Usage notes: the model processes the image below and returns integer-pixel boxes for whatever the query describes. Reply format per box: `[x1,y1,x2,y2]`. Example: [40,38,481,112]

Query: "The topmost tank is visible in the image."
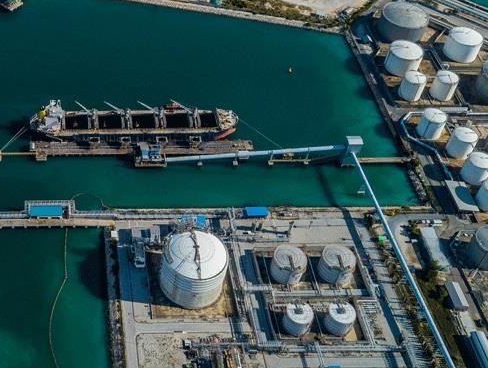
[377,1,429,43]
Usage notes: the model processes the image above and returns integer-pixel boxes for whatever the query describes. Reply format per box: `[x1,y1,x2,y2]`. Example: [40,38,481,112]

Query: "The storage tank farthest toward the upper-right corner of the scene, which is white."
[441,24,484,63]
